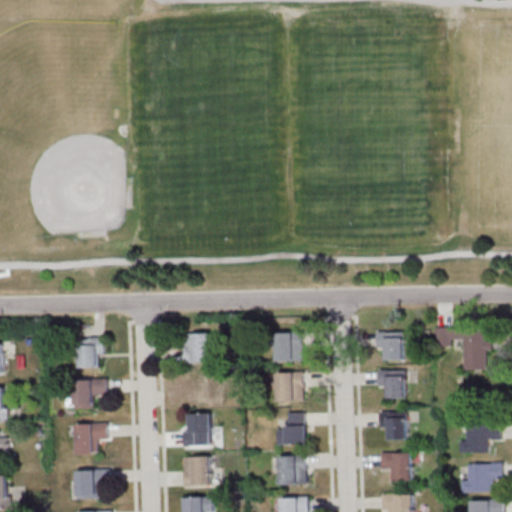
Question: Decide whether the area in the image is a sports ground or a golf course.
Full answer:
It's a sports ground.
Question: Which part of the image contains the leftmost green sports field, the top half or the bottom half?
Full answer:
The top half of the photo is where the leftmost green sports field is.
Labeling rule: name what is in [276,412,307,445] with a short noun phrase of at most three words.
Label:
house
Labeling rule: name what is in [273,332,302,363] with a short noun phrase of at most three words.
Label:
house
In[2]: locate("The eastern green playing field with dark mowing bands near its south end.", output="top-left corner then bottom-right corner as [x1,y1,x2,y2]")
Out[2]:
[294,13,446,248]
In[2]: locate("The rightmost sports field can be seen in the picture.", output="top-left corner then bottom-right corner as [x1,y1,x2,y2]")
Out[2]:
[459,23,512,232]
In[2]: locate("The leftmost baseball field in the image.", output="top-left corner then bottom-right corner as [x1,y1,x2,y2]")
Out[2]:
[30,134,127,234]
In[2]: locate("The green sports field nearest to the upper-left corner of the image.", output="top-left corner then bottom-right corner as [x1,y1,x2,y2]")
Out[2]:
[132,14,292,250]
